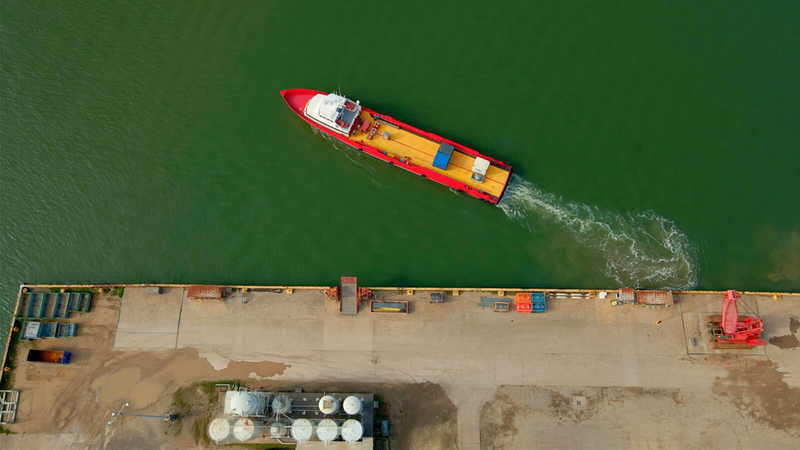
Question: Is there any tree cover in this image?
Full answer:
No, the scene doesn't show any tree cover.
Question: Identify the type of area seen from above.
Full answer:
What you see here is a port.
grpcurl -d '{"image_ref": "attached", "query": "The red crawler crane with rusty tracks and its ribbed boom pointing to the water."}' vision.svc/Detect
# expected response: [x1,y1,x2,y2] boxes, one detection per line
[705,290,769,349]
